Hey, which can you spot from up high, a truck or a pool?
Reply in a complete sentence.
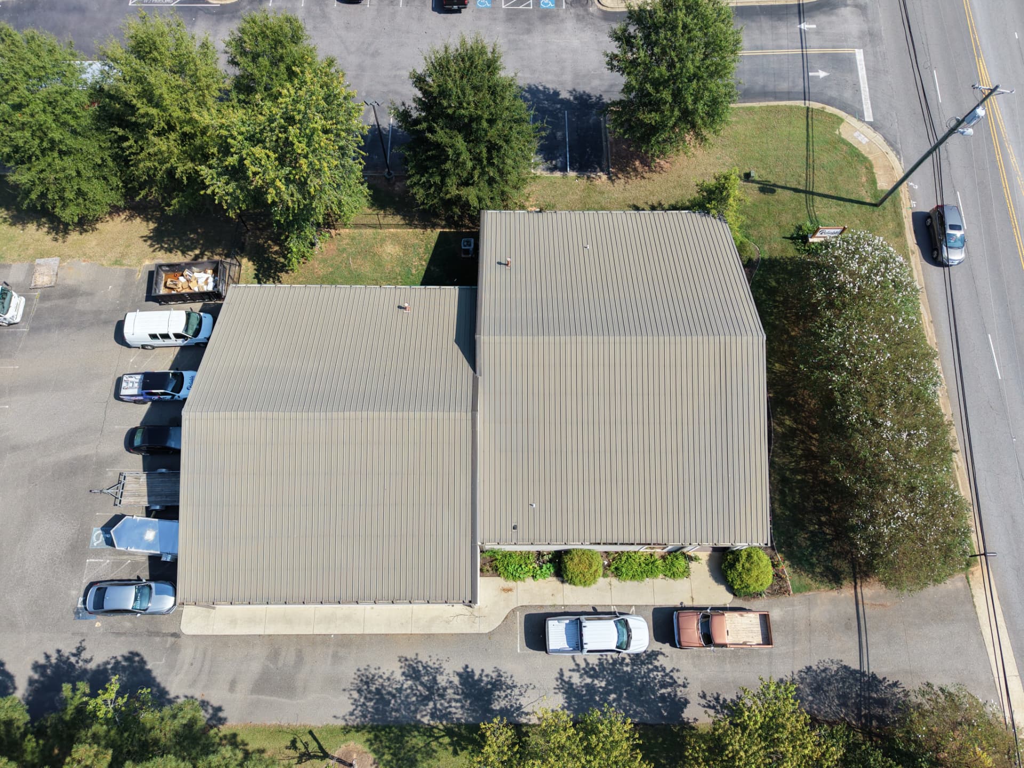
This aerial view contains a truck.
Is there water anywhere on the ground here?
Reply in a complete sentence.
No, the scene doesn't show any water.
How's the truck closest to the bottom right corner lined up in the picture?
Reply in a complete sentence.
Seen from above, the truck closest to the bottom right corner lies from side to side.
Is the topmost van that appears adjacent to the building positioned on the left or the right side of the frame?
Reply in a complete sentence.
The topmost van that appears adjacent to the building appears in the left half of the scene.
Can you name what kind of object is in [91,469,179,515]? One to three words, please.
trailer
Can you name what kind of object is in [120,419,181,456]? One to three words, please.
car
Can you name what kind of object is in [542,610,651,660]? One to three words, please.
truck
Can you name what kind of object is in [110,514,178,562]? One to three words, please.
trailer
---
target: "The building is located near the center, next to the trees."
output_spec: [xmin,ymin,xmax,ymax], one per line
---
[176,210,770,614]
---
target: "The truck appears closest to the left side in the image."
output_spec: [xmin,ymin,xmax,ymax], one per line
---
[0,276,32,324]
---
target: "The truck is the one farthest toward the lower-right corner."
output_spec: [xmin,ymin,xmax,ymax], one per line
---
[670,606,776,653]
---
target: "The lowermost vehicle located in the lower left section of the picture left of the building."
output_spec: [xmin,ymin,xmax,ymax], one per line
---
[82,577,176,618]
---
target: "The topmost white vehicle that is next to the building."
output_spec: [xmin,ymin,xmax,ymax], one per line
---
[117,307,217,350]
